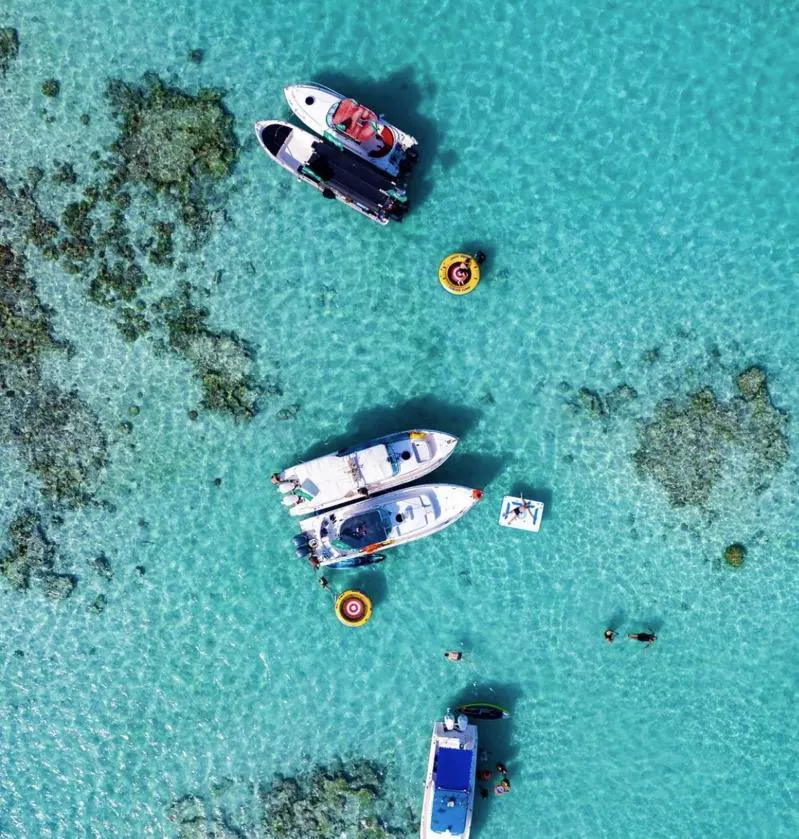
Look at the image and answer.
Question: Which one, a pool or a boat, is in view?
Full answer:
Of the two, only a boat appears.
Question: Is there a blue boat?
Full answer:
Yes, there is a blue boat in the image.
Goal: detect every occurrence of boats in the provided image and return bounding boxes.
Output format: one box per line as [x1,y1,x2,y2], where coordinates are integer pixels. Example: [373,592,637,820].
[284,80,424,181]
[328,554,385,570]
[254,118,411,226]
[270,428,461,515]
[455,703,511,719]
[293,484,483,567]
[422,709,477,839]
